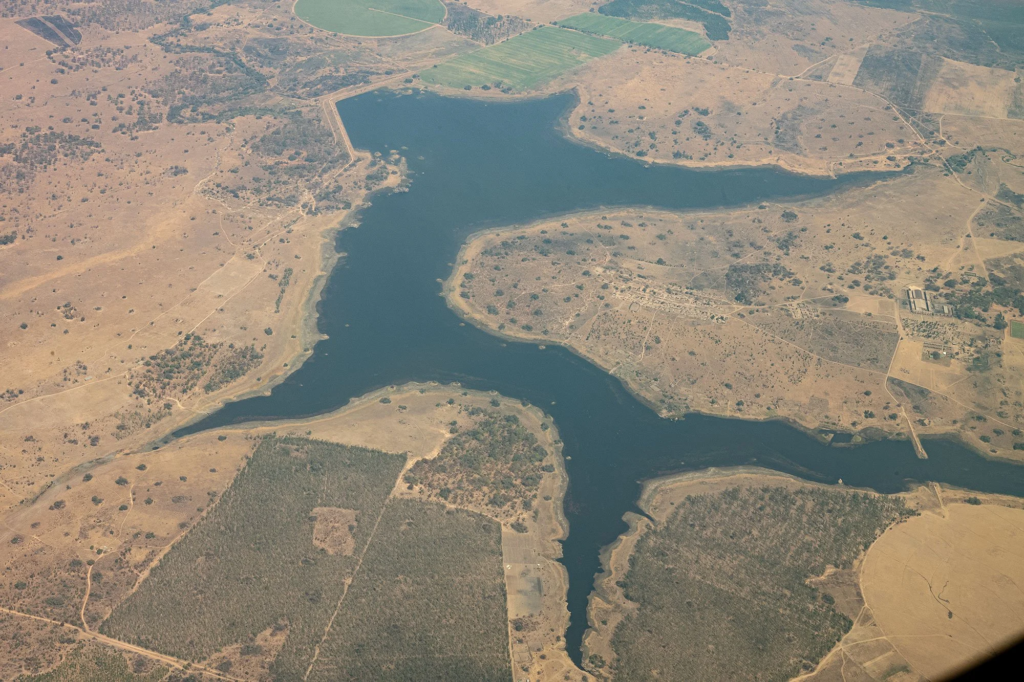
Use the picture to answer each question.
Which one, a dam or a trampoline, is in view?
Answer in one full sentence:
Of the two, only a dam appears.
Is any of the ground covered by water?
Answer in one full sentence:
Yes, the picture does contain water.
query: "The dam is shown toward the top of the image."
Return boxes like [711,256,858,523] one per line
[327,71,411,157]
